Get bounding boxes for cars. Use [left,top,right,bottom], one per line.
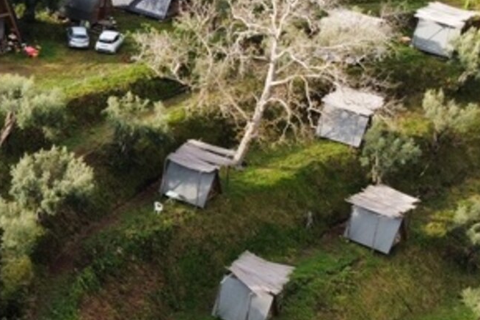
[88,22,129,58]
[65,21,92,51]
